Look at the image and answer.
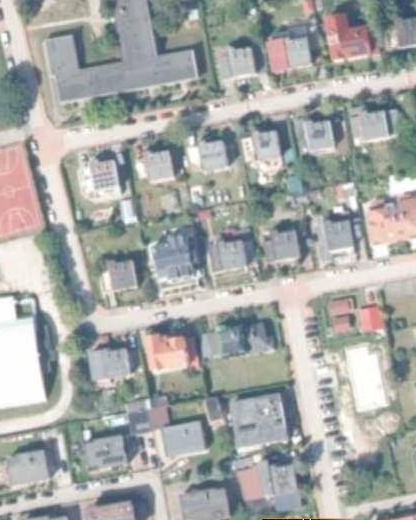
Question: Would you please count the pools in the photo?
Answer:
0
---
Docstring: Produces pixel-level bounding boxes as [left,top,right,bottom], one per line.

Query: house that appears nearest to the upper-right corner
[387,18,416,51]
